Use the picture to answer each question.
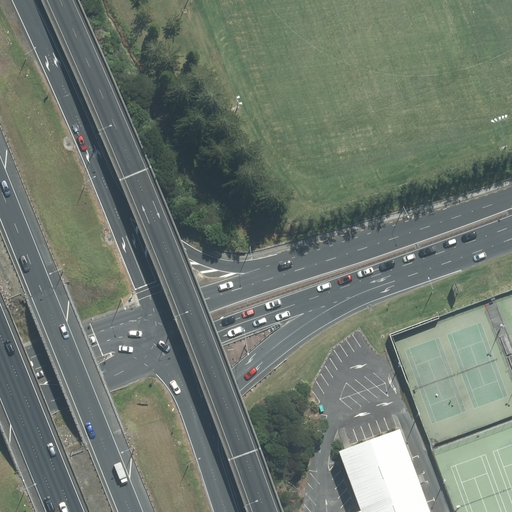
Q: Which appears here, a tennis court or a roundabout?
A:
tennis court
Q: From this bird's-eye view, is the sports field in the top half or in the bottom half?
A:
top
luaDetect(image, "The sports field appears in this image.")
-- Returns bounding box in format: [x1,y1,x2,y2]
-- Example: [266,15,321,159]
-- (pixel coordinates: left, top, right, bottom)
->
[198,0,512,220]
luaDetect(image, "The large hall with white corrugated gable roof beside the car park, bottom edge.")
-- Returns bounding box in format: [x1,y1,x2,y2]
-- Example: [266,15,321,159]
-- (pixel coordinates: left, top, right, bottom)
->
[339,430,429,512]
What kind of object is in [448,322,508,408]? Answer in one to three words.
tennis court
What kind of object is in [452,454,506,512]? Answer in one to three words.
tennis court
